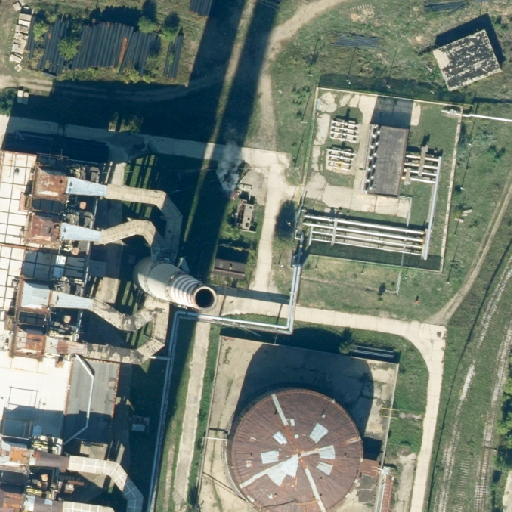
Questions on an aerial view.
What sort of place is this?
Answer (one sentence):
This looks like an industrial area.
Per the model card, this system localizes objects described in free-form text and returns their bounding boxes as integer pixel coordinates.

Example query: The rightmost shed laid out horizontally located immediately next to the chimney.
[213,258,247,279]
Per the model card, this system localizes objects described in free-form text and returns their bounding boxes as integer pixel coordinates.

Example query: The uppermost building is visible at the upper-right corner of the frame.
[433,29,502,90]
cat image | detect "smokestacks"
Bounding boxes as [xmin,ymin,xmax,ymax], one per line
[132,256,217,310]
